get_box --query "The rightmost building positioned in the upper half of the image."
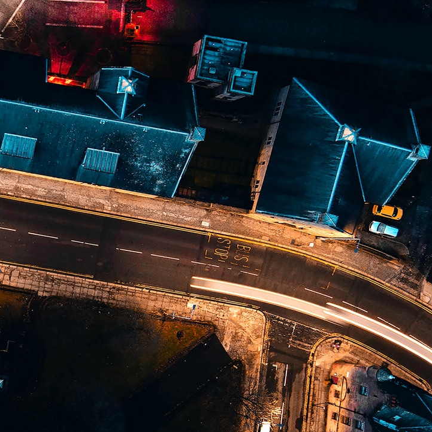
[244,75,432,240]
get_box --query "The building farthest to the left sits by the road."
[0,49,208,203]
